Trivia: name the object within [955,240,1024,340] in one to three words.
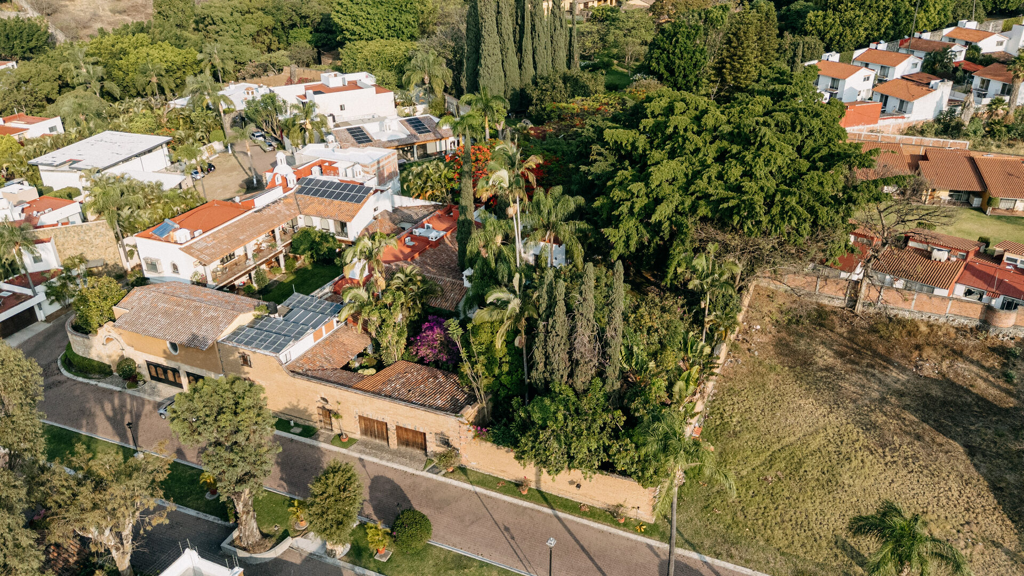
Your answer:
house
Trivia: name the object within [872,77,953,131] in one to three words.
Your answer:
house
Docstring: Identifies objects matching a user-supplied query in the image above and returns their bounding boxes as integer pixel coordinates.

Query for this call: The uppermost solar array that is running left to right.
[298,176,372,204]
